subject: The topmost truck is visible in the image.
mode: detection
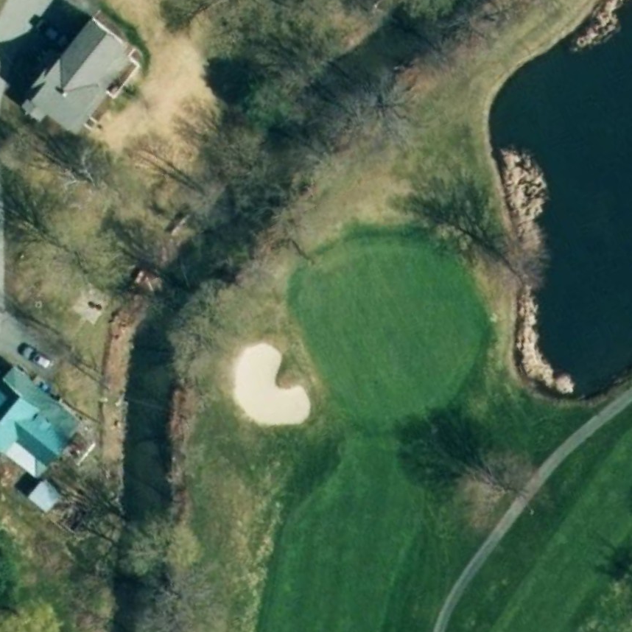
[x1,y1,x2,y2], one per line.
[15,340,53,370]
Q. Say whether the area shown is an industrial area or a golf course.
golf course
